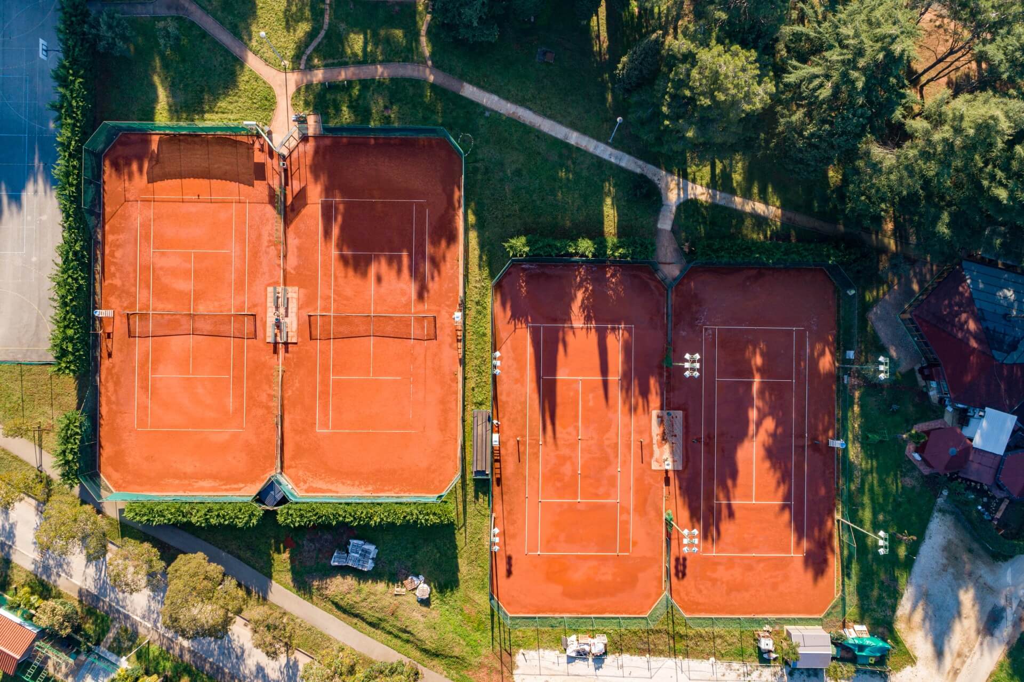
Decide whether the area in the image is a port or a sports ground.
sports ground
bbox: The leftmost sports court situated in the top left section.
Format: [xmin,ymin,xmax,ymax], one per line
[0,0,69,364]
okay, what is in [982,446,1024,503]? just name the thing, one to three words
building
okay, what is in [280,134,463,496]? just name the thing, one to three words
tennis court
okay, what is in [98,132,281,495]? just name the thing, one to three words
tennis court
